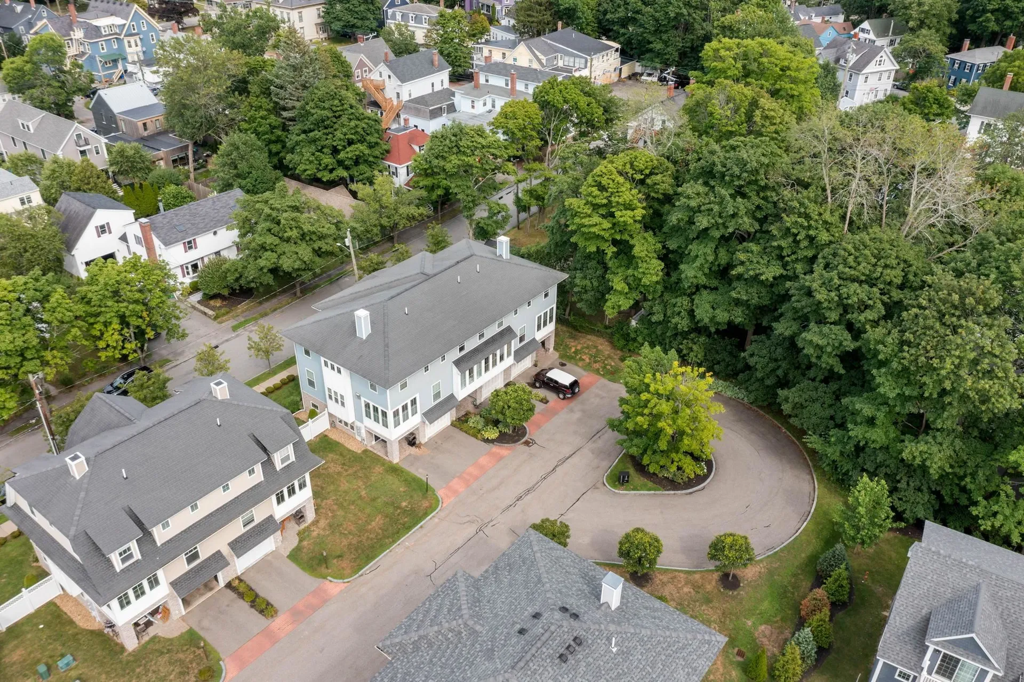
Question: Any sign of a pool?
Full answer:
No, the photo shows no pool.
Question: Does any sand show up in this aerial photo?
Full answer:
No, there is no sand in the image.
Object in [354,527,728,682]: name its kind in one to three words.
house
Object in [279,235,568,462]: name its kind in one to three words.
house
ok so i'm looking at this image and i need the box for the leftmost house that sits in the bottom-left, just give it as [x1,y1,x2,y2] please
[0,371,326,650]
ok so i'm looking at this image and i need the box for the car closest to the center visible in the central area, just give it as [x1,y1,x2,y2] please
[530,369,584,401]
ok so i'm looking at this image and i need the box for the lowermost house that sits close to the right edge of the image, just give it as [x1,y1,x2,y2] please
[875,521,1024,682]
